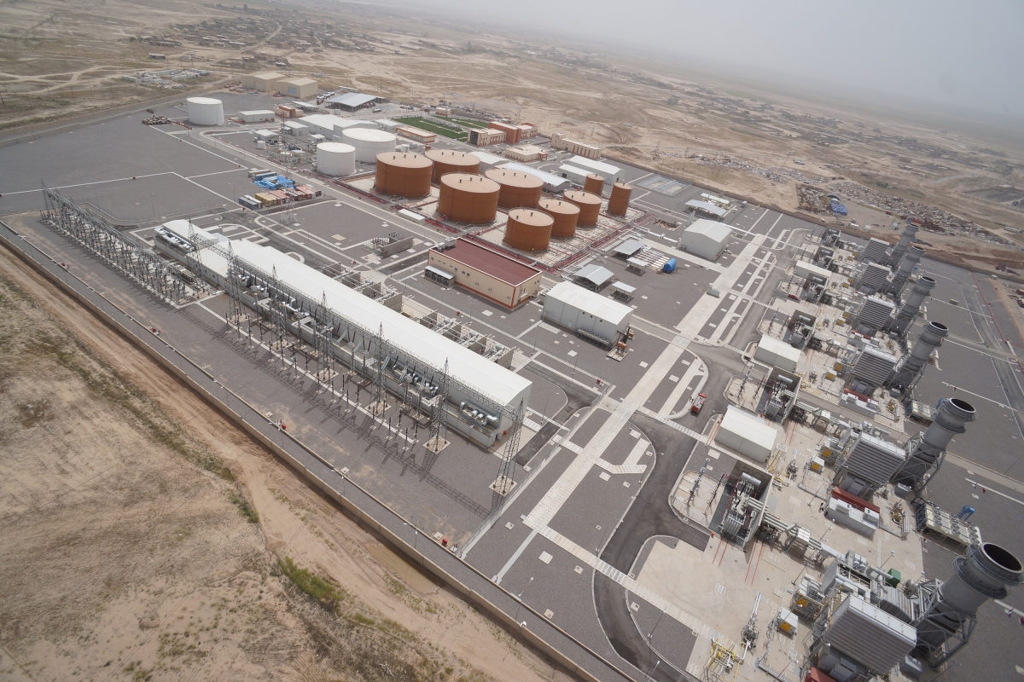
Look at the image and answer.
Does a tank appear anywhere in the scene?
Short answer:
Yes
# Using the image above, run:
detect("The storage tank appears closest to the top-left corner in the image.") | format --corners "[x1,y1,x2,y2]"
[184,96,226,124]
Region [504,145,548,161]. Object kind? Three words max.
building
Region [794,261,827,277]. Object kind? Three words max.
shed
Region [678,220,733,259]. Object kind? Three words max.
building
